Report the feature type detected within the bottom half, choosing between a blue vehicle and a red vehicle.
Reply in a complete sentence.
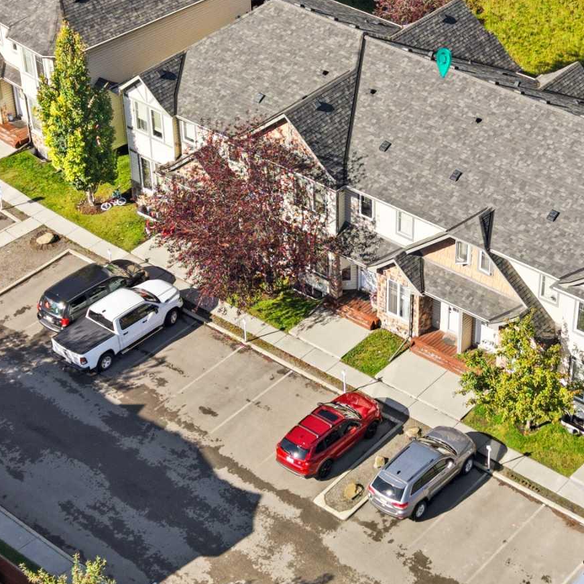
You can see a red vehicle within the bottom half.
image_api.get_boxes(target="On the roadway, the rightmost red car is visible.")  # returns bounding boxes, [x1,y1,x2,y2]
[272,389,385,479]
